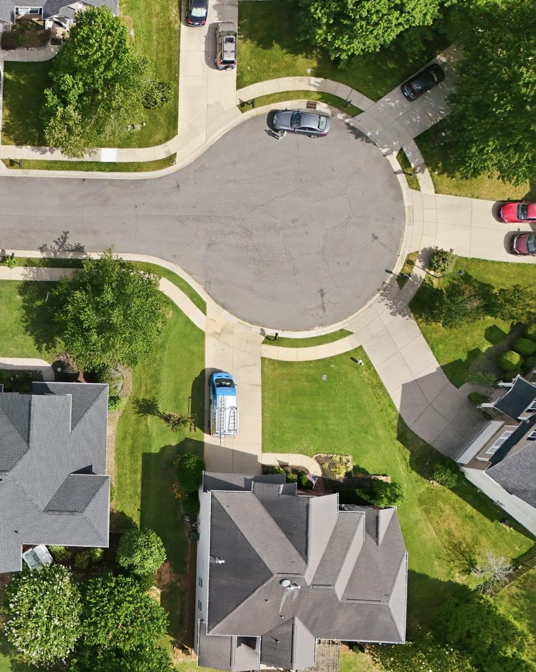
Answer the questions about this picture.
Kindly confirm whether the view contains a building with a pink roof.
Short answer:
No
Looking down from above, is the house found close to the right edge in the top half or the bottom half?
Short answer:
bottom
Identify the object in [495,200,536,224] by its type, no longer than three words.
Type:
car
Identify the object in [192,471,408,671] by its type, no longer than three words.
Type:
house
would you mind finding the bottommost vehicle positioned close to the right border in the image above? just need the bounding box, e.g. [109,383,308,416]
[507,232,536,257]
